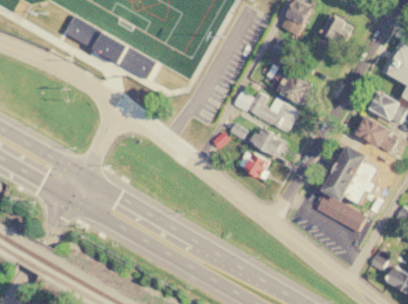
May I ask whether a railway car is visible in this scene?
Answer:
No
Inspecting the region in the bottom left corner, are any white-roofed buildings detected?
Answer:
No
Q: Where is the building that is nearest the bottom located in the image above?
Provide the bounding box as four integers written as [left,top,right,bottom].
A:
[384,266,408,288]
